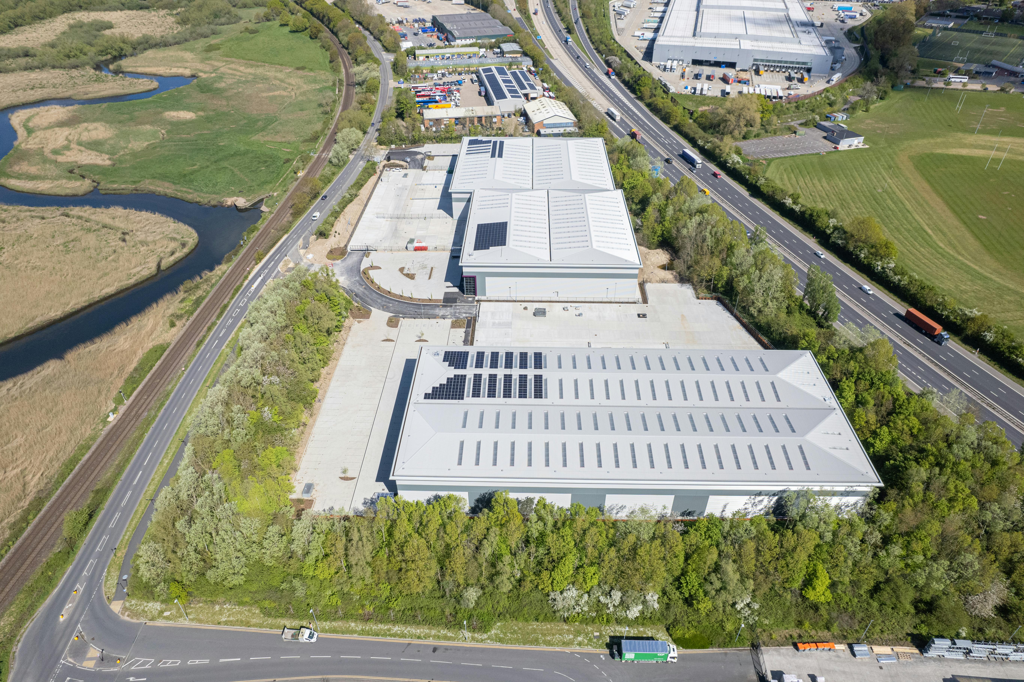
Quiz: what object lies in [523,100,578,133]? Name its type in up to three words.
shed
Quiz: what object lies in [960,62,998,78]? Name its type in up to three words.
building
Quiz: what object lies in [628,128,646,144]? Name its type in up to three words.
vehicle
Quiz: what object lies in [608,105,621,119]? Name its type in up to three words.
vehicle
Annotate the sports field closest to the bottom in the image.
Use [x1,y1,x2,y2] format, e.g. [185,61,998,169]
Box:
[763,88,1024,371]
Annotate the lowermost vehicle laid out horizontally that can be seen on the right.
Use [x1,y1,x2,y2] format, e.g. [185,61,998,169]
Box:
[624,640,680,662]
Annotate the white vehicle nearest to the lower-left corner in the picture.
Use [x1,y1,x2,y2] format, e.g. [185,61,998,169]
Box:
[281,626,316,644]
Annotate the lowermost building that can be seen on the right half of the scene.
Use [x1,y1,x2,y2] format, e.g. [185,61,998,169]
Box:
[389,346,885,519]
